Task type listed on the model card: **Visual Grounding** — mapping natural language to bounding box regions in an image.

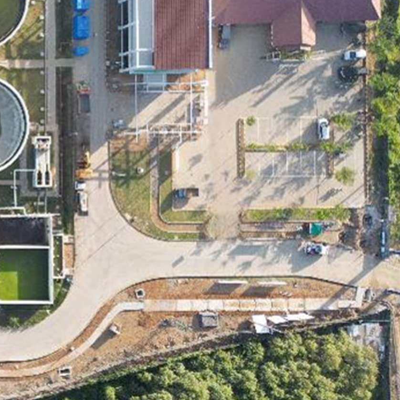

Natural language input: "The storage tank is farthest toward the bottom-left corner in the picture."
[0,214,64,304]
